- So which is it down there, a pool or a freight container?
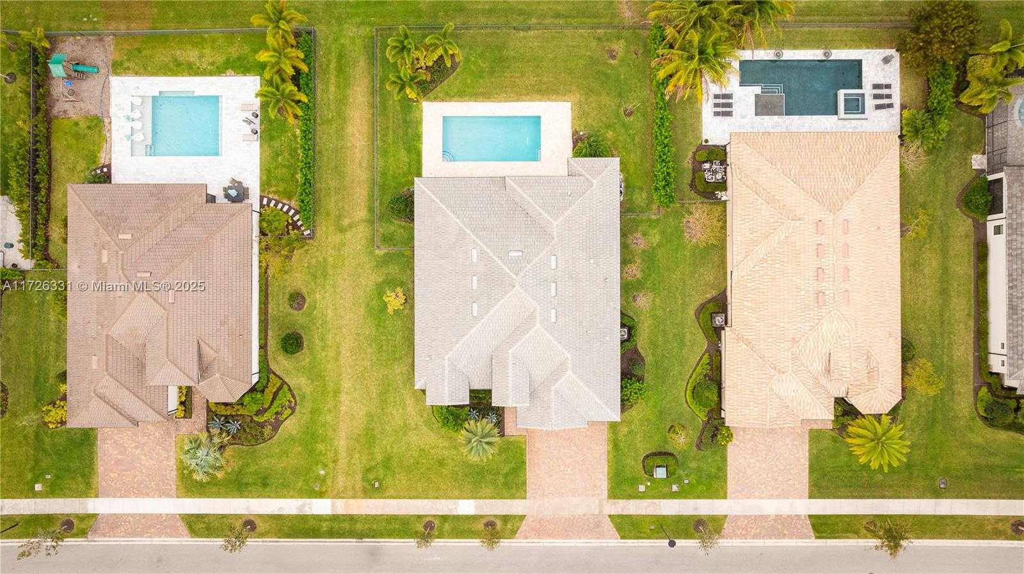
pool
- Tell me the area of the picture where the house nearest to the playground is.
left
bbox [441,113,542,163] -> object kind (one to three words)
swimming pool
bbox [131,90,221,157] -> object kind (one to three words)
swimming pool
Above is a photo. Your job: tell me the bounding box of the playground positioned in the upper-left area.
[50,35,113,118]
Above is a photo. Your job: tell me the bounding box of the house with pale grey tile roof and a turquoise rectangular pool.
[414,157,621,431]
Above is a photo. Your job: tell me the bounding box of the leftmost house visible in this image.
[66,183,259,428]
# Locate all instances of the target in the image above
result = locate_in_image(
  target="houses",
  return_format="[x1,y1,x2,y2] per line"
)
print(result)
[66,183,259,428]
[986,166,1024,392]
[720,131,902,431]
[414,157,621,431]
